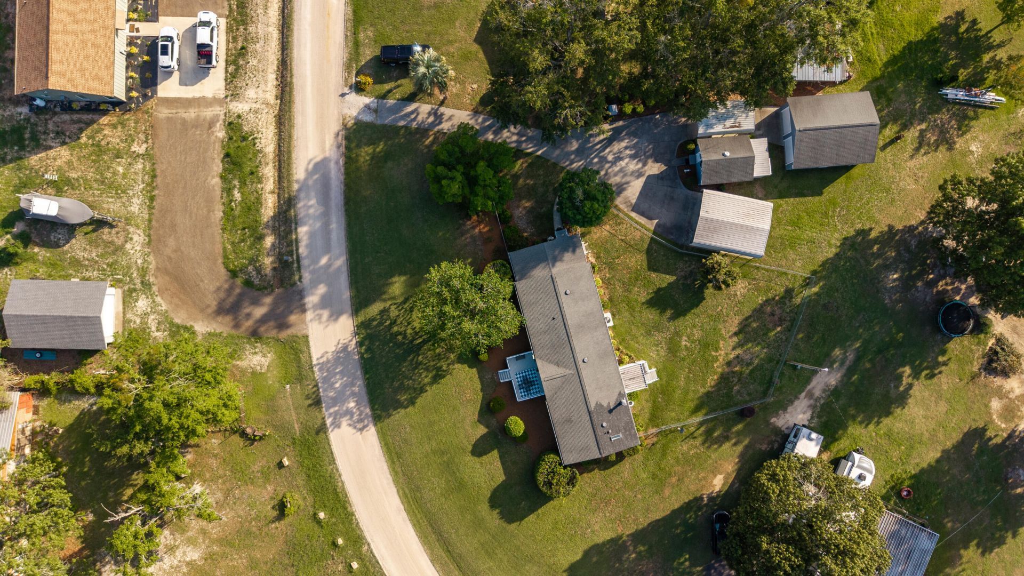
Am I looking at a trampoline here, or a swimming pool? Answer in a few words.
trampoline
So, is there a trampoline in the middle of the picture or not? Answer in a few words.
No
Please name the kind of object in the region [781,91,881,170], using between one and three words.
building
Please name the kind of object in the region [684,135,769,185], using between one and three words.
shed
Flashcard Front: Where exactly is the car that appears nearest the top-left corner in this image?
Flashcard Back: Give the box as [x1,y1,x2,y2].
[158,27,183,73]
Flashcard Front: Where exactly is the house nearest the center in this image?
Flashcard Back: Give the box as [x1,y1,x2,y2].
[507,229,640,465]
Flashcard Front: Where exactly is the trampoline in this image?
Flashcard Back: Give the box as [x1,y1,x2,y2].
[934,301,974,336]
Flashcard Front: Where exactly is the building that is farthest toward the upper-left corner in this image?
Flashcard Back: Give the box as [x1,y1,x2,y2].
[15,0,135,102]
